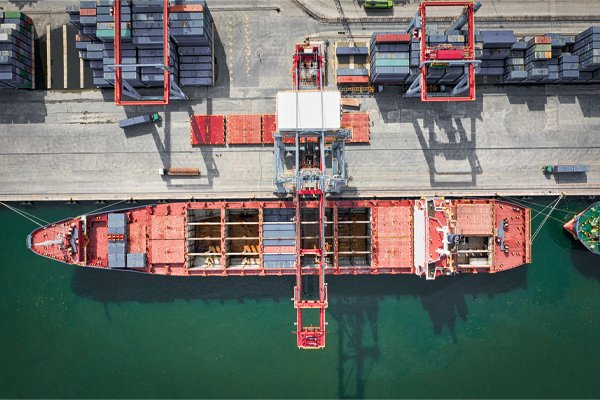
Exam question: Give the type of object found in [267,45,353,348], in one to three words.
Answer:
container crane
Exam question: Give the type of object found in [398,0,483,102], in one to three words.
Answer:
container crane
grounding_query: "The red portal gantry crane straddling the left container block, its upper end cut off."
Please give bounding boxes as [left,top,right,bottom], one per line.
[105,0,192,105]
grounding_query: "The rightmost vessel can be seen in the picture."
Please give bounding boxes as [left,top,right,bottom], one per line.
[563,200,600,256]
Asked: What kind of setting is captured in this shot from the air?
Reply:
port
